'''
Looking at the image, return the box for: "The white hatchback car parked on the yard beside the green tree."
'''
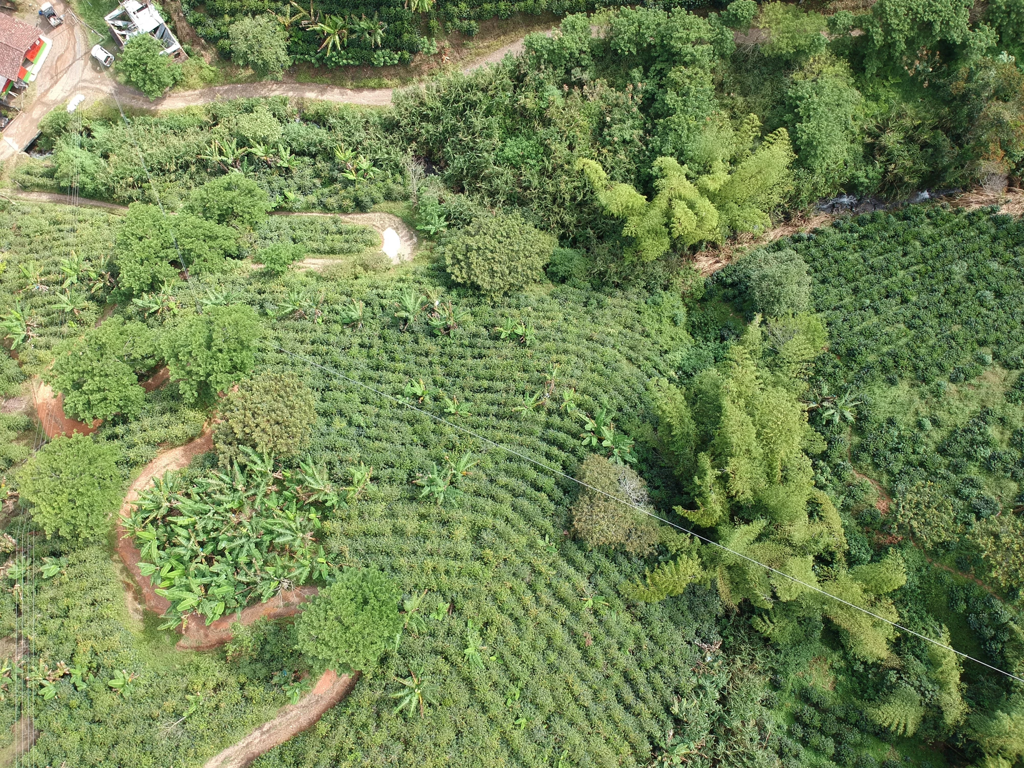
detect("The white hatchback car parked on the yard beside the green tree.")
[90,45,118,71]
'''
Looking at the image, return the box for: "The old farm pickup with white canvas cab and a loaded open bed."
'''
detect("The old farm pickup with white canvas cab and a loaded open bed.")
[41,1,68,31]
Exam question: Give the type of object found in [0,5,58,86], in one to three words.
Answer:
house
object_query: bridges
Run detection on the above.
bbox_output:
[0,104,53,164]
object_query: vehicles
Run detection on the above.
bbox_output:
[41,1,68,31]
[90,45,118,71]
